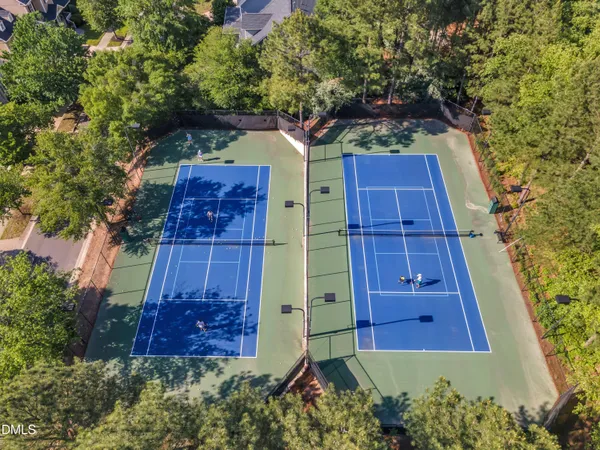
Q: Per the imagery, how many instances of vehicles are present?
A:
none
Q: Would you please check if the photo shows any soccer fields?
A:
No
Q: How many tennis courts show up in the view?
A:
2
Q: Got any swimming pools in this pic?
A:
No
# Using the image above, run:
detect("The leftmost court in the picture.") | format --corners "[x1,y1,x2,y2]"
[77,129,304,431]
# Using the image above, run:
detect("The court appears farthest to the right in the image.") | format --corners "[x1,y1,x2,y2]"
[308,118,550,426]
